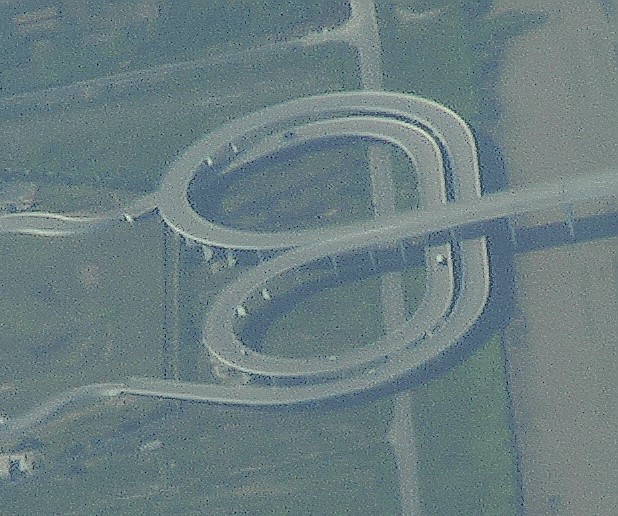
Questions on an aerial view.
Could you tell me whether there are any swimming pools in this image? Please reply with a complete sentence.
No, the photo shows no swimming pool.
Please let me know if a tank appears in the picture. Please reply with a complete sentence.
No, no tank is visible in the scene.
